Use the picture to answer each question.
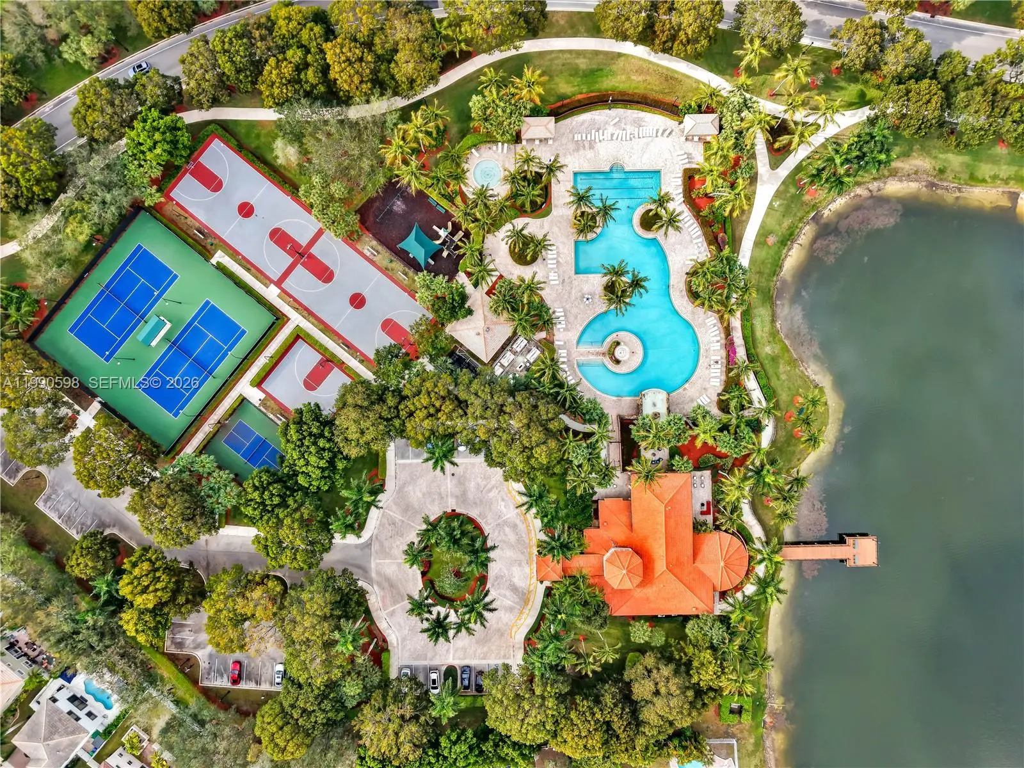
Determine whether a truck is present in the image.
No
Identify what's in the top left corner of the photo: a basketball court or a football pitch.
basketball court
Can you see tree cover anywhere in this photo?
Yes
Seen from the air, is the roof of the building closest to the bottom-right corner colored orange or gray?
orange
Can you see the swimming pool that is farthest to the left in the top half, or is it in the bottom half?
bottom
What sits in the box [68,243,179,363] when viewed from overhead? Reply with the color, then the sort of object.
blue tennis court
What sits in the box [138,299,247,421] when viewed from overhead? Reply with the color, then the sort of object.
blue tennis court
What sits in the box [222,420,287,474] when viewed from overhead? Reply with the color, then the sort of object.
blue sports court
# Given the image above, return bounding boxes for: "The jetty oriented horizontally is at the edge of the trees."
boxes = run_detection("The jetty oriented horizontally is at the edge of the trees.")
[777,532,880,567]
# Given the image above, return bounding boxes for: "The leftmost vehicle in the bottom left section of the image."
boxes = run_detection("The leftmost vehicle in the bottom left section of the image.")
[229,662,241,686]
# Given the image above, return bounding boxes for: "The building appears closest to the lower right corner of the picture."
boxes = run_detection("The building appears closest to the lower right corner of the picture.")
[536,473,749,615]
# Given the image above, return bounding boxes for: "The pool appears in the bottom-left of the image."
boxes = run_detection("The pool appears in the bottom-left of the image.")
[82,677,114,711]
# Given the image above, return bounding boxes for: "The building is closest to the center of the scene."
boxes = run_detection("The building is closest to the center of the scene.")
[446,290,513,364]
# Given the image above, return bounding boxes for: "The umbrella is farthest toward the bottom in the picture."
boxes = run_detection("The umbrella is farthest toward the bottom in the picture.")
[60,668,77,684]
